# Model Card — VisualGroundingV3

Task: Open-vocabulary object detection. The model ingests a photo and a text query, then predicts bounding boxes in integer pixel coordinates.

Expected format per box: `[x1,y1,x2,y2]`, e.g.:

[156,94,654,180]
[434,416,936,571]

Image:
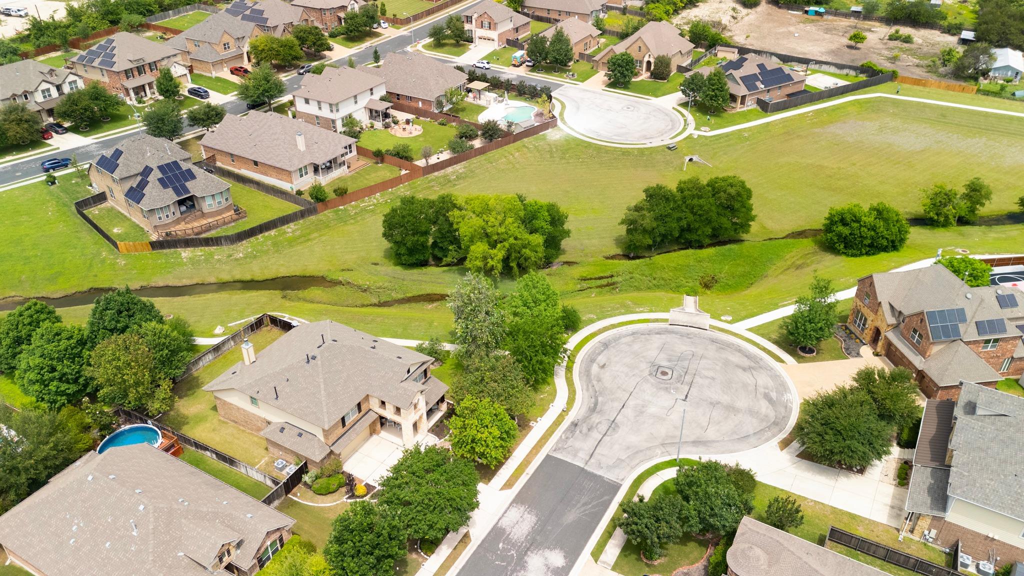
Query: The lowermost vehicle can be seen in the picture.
[40,156,70,170]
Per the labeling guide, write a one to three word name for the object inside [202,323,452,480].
house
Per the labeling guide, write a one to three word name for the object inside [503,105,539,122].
swimming pool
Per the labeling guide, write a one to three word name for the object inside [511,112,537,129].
shed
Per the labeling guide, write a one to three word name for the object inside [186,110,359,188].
house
